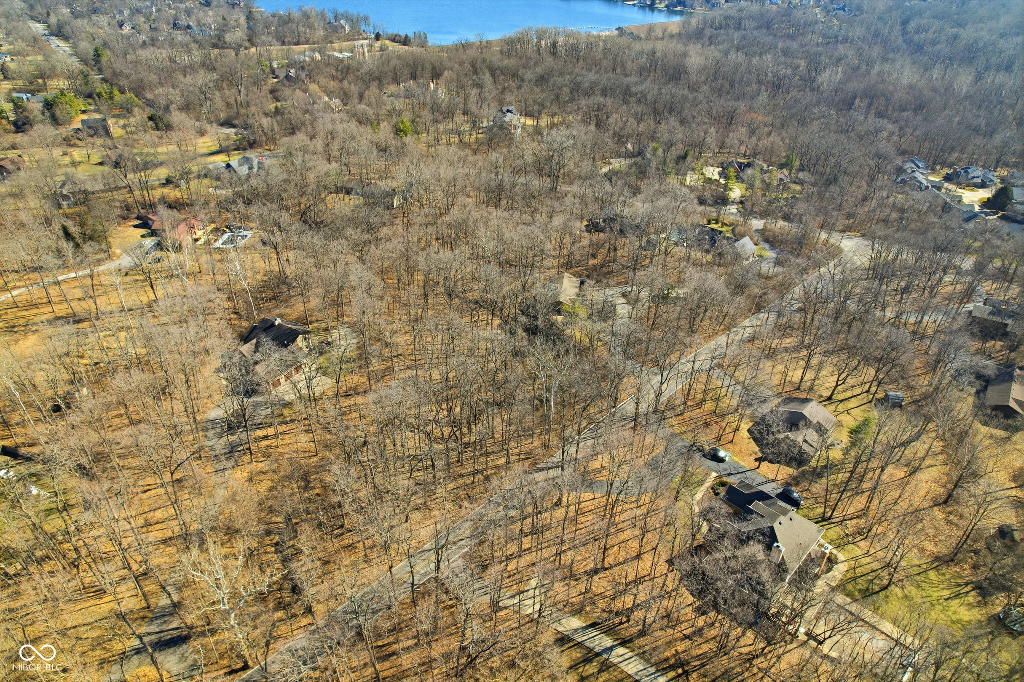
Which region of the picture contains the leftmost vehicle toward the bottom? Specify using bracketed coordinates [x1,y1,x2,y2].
[701,445,729,462]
